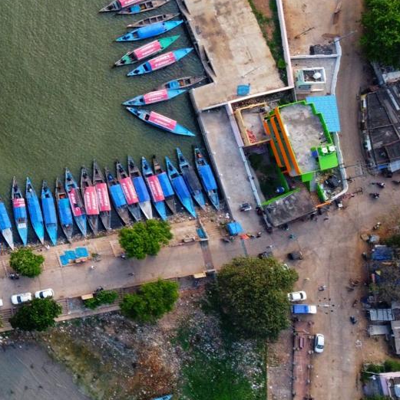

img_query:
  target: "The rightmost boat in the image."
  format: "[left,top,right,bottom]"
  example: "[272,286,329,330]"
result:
[194,148,220,211]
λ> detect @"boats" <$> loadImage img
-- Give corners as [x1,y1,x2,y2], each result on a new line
[113,36,180,66]
[65,167,87,238]
[11,178,26,248]
[165,156,196,217]
[127,48,194,76]
[121,88,189,105]
[175,148,206,211]
[162,77,207,91]
[194,148,220,211]
[116,160,140,220]
[128,156,152,220]
[154,156,177,214]
[99,0,144,13]
[25,178,45,245]
[126,107,197,136]
[142,157,166,221]
[0,198,14,250]
[56,178,73,242]
[115,19,185,41]
[40,181,57,245]
[80,166,99,237]
[105,167,128,225]
[126,14,180,28]
[93,159,111,232]
[116,0,170,15]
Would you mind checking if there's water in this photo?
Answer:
Yes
